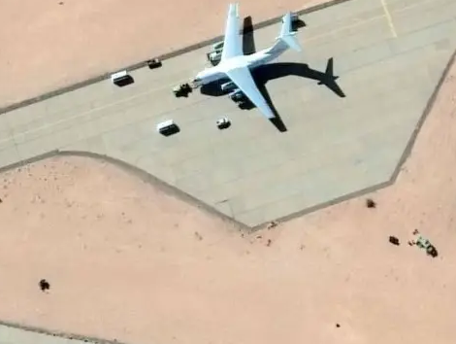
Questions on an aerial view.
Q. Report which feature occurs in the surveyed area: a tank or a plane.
plane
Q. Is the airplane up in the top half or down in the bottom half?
top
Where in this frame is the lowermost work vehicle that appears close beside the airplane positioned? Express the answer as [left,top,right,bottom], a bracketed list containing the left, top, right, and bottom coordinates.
[175,84,198,96]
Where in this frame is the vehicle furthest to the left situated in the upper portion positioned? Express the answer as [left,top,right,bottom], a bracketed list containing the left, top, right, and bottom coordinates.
[112,71,130,85]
